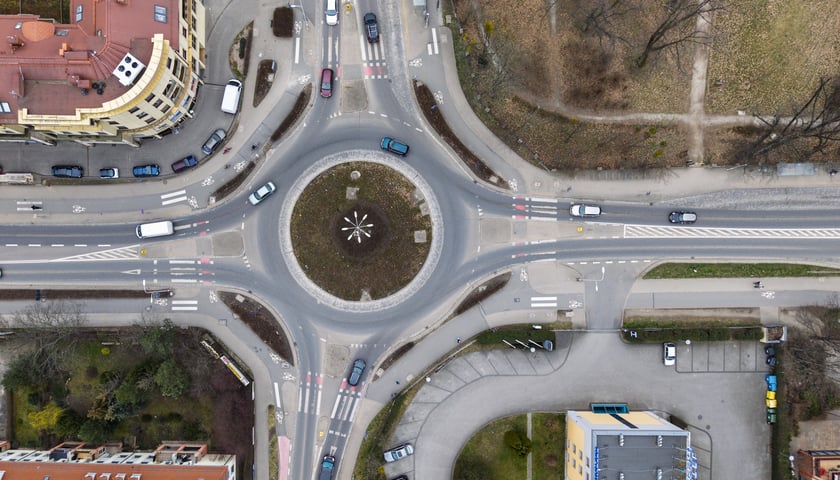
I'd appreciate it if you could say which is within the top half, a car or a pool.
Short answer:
car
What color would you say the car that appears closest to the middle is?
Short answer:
blue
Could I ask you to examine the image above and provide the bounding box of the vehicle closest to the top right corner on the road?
[669,208,700,223]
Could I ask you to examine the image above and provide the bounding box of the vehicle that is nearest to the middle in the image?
[379,135,409,155]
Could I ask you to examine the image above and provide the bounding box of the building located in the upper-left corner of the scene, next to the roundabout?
[0,0,213,155]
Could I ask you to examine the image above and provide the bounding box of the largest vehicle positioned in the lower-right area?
[664,343,680,368]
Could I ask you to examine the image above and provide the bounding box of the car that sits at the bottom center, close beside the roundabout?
[346,356,367,388]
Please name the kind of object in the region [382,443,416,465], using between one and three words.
car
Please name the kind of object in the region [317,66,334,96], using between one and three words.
car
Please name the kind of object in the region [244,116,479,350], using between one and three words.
roundabout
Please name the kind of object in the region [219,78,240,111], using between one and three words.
vehicle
